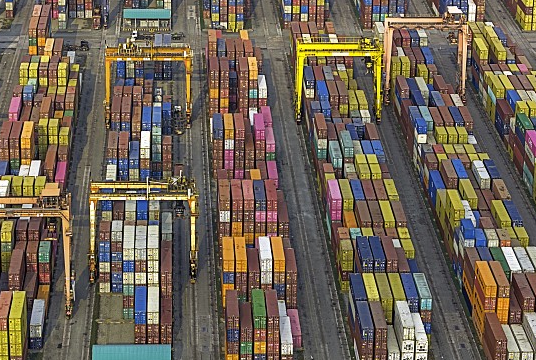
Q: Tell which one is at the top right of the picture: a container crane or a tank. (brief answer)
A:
container crane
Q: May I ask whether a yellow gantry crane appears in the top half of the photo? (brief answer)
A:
Yes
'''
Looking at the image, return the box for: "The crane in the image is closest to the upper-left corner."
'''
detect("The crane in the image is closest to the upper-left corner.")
[103,36,194,130]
